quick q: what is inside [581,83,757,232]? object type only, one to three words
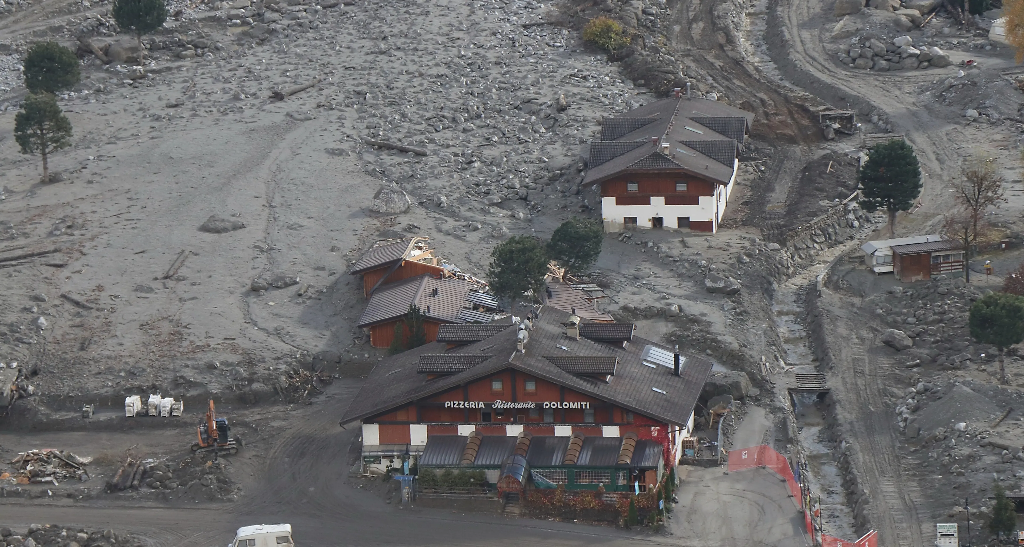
house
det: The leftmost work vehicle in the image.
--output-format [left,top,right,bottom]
[195,401,245,460]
